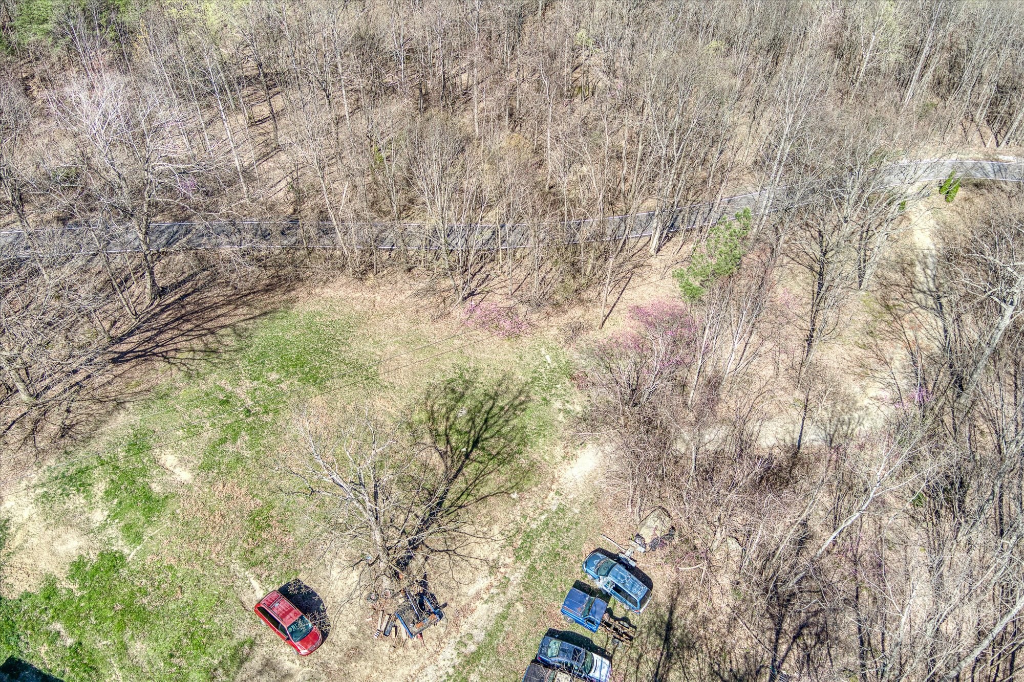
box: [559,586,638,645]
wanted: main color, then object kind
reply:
blue truck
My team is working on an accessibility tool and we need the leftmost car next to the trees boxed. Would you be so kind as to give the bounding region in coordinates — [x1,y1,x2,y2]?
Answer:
[252,591,323,658]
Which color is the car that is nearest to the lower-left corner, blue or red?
red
